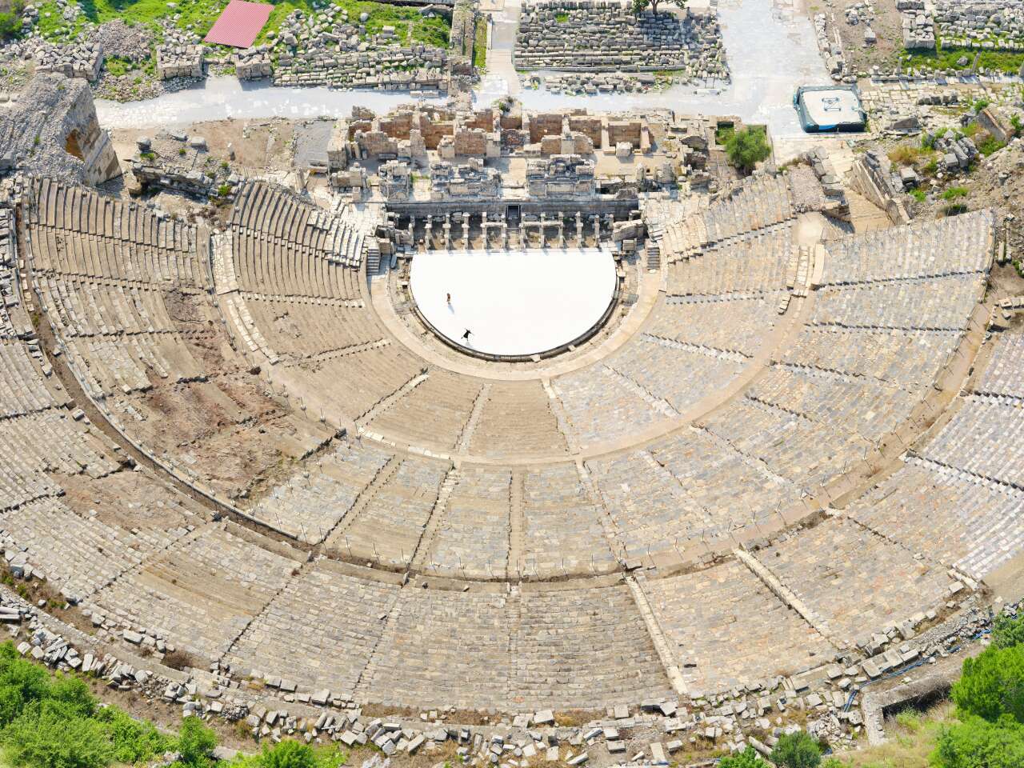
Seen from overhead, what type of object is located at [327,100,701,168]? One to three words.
building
